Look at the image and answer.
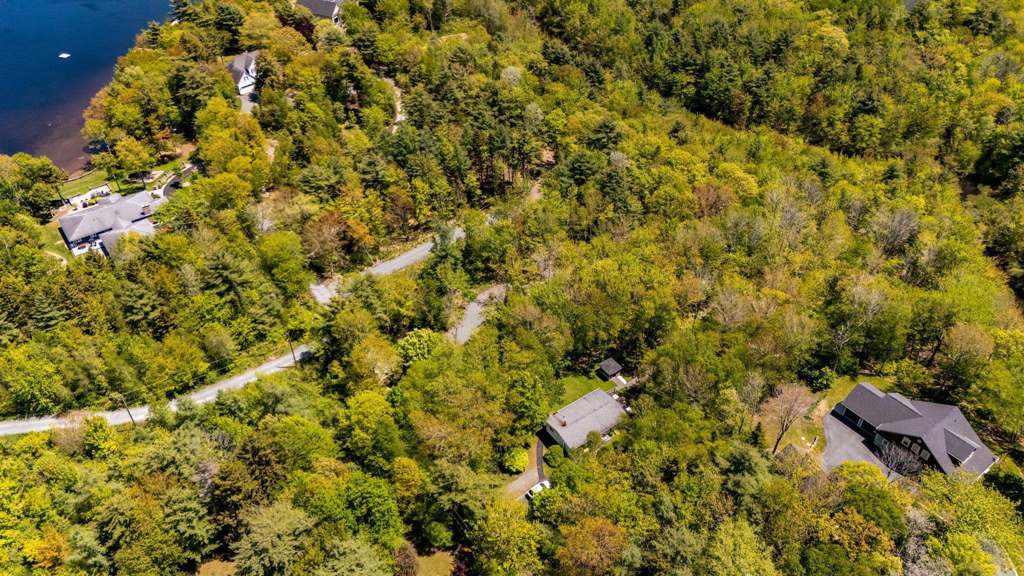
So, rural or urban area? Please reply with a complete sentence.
This place is rural.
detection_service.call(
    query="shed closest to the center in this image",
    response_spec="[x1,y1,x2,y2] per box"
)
[598,358,622,384]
